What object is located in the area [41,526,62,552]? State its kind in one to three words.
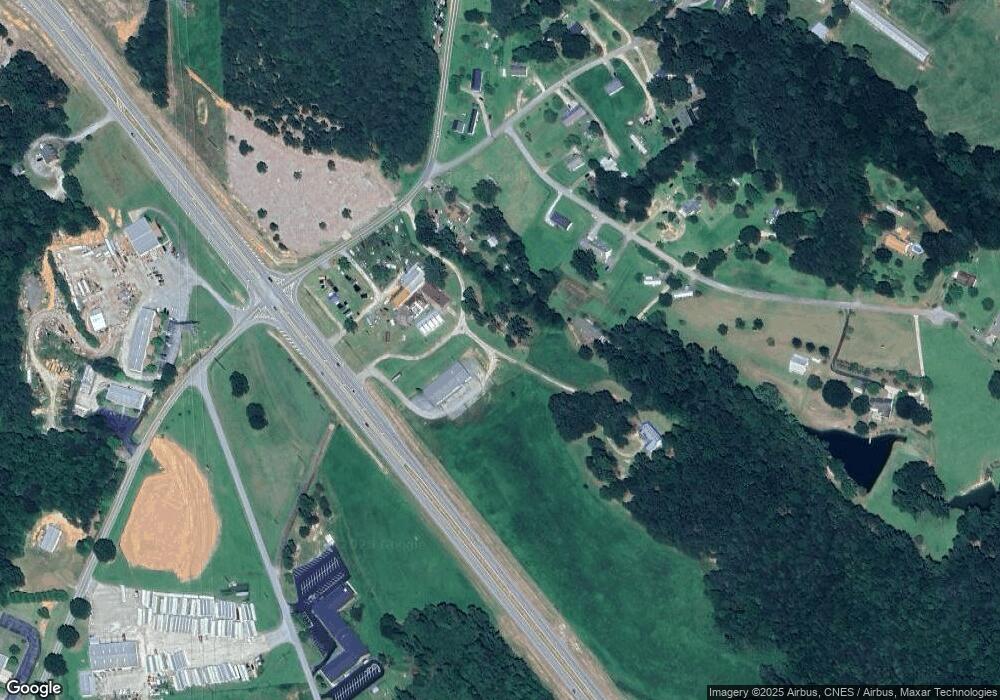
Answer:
barn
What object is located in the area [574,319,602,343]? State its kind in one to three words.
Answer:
house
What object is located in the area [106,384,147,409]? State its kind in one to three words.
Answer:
building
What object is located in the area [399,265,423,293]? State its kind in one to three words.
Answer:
barn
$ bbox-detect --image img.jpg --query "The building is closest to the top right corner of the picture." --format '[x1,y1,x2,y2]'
[843,0,931,62]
